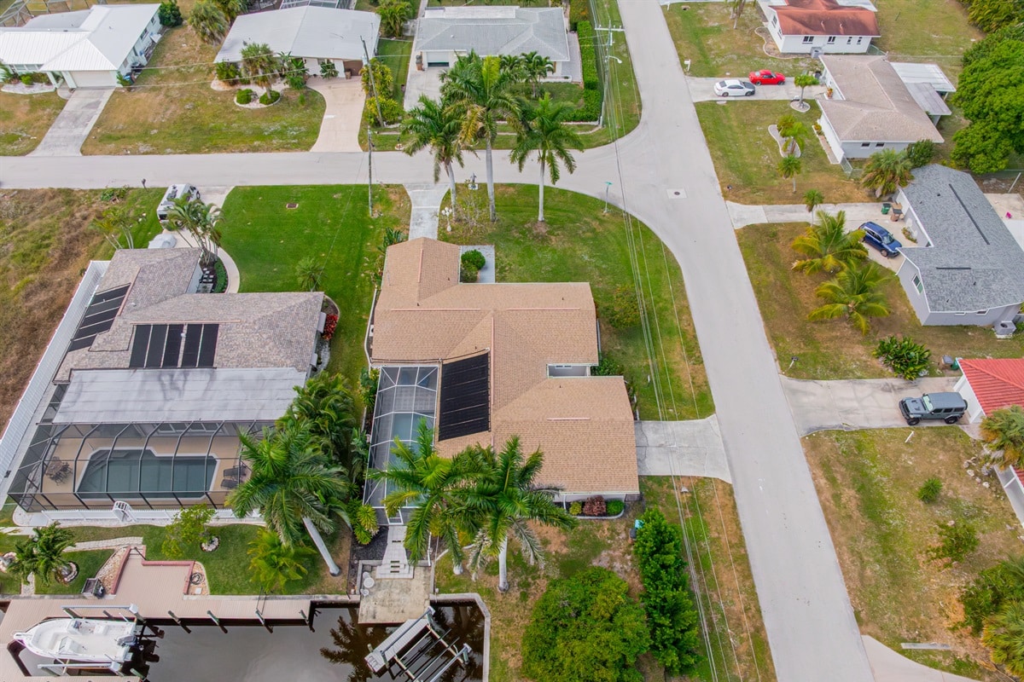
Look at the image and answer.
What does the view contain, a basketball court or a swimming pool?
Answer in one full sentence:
Visible in the photo is a swimming pool.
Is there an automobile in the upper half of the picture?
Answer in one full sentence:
Yes, I can see an automobile in the upper half of the picture.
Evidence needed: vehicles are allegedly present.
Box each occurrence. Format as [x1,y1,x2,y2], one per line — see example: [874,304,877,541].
[713,75,759,94]
[901,391,973,424]
[748,66,789,83]
[152,186,202,235]
[857,220,906,259]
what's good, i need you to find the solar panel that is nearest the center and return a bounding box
[374,350,492,441]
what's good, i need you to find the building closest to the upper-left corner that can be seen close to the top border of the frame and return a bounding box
[0,4,159,94]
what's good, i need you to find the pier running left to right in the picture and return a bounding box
[0,557,312,682]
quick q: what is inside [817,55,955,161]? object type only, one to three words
house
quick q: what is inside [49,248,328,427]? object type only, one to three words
house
